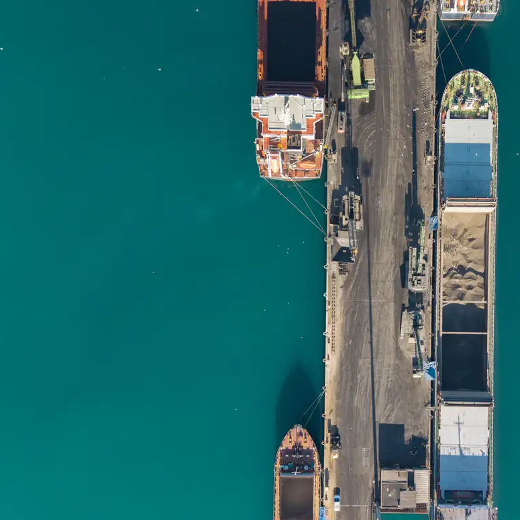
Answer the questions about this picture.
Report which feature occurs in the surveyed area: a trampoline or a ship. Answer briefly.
ship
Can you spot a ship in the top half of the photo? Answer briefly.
Yes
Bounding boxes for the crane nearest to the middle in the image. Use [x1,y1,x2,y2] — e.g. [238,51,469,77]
[340,192,363,262]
